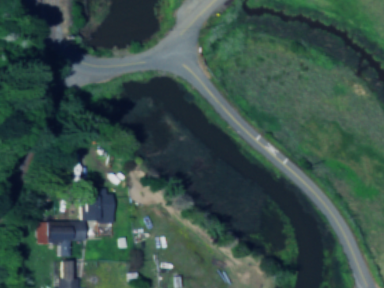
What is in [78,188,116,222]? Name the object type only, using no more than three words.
house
